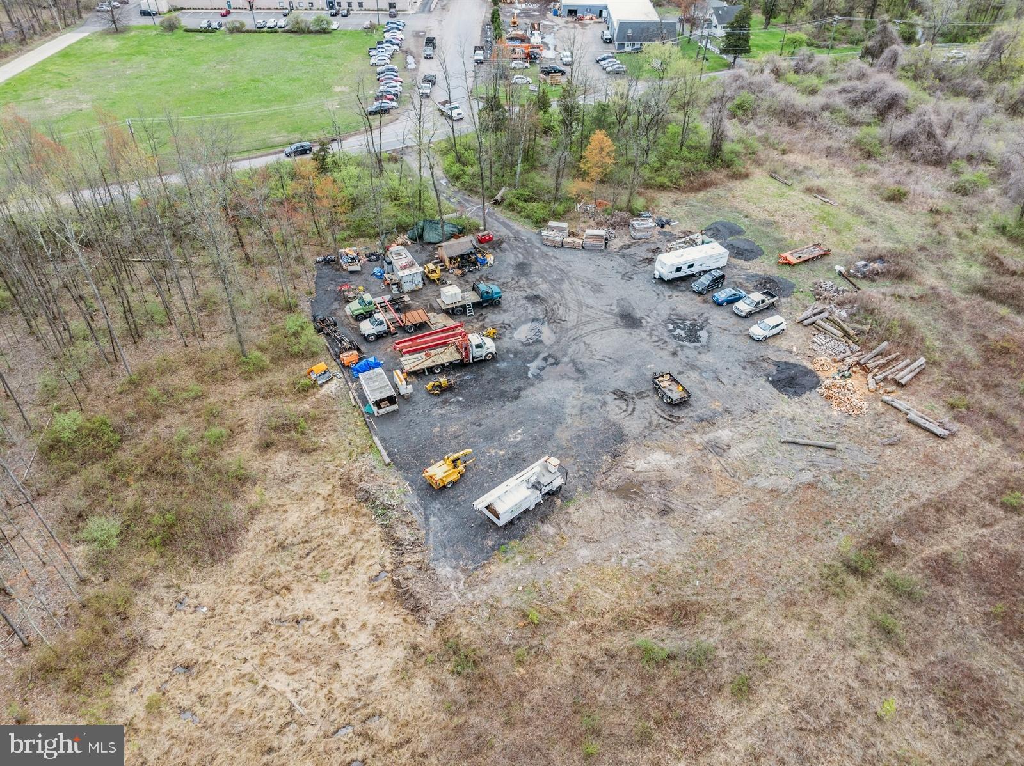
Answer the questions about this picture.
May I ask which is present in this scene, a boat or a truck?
truck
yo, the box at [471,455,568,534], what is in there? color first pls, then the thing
white truck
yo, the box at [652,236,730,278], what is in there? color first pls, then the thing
white vehicle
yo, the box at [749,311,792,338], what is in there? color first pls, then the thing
white car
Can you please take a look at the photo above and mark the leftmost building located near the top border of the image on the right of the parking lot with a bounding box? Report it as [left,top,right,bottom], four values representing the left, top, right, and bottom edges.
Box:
[558,0,678,50]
